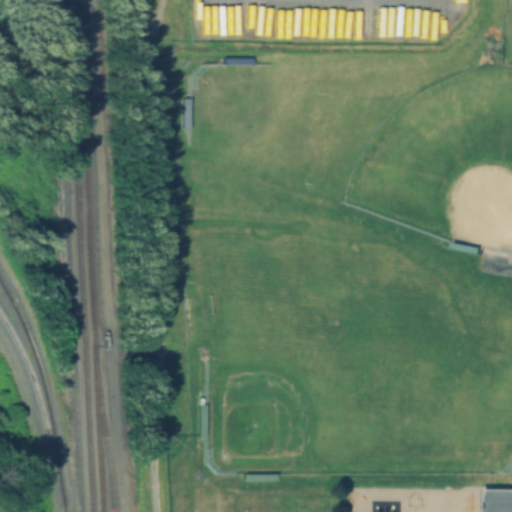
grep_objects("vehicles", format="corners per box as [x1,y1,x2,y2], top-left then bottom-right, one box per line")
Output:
[211,4,220,36]
[354,10,364,41]
[310,8,319,38]
[378,6,388,39]
[293,7,302,38]
[386,6,396,39]
[318,8,328,40]
[284,9,294,40]
[439,16,448,34]
[336,8,346,40]
[226,4,234,37]
[264,6,274,38]
[327,7,337,40]
[276,9,285,40]
[412,7,422,38]
[256,5,266,38]
[218,5,227,38]
[196,0,204,22]
[344,10,354,40]
[247,4,256,30]
[430,12,439,42]
[404,8,414,38]
[420,10,430,40]
[202,4,212,37]
[234,4,242,36]
[302,7,311,38]
[395,6,406,38]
